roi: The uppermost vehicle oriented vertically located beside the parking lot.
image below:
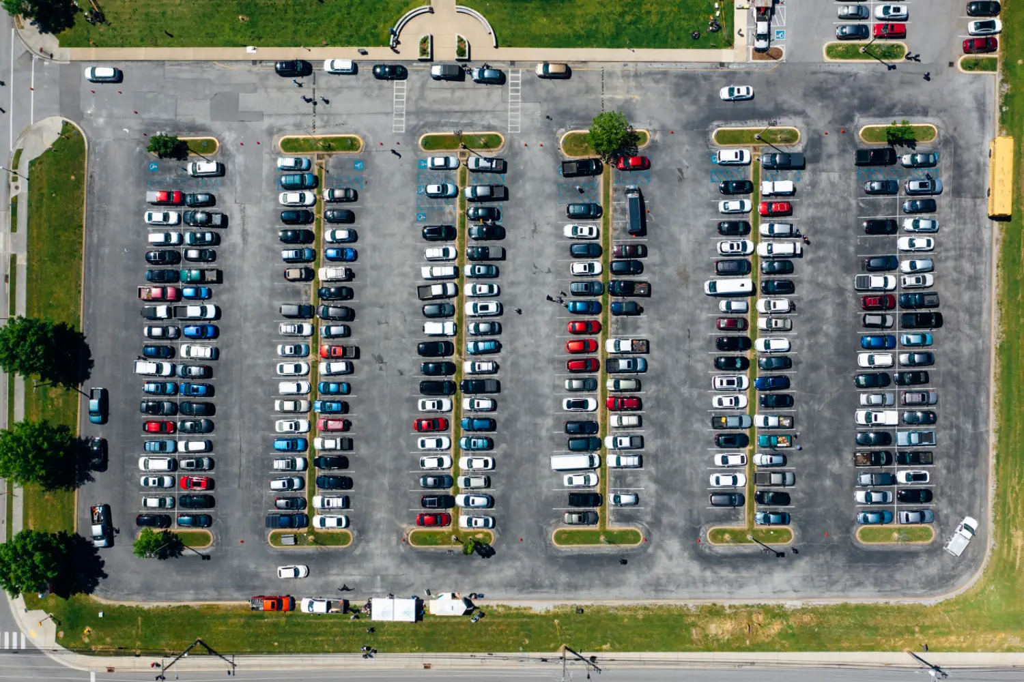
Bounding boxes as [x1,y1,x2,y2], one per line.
[754,6,772,53]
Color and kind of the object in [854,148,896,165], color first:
black vehicle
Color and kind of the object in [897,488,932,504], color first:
black car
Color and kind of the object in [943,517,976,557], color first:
white truck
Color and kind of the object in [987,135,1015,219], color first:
yellow bus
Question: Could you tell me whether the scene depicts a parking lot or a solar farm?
parking lot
